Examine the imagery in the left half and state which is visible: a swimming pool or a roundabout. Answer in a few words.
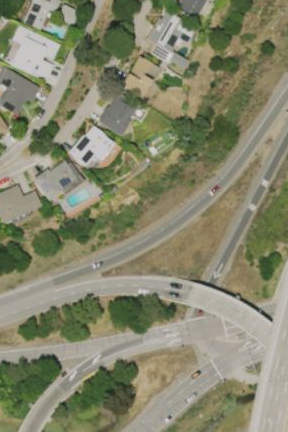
swimming pool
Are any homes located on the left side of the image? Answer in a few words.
Yes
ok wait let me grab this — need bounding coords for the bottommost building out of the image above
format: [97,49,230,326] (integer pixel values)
[0,184,42,224]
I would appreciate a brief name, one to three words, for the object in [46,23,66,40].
swimming pool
